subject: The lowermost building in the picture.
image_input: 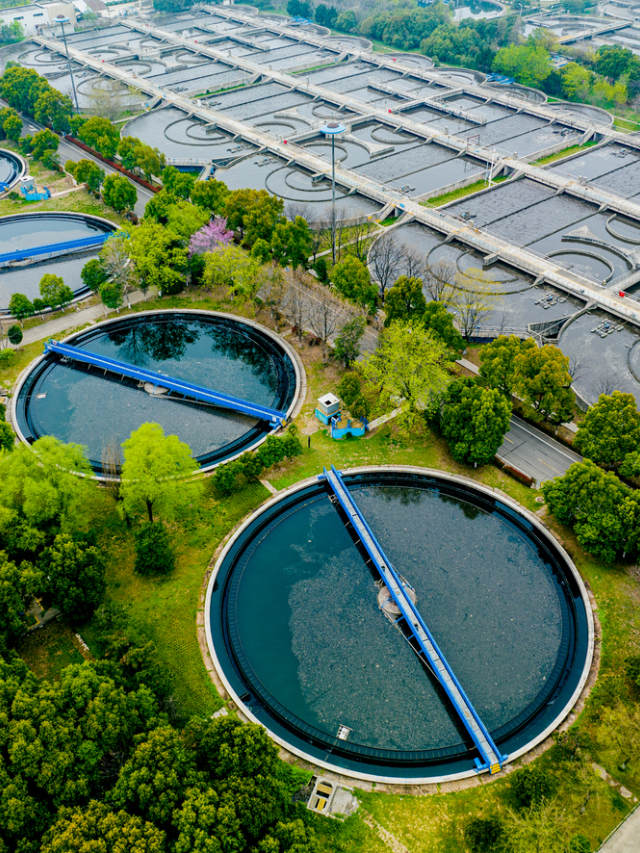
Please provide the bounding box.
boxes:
[314,387,342,423]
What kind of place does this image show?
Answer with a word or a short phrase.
industrial area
